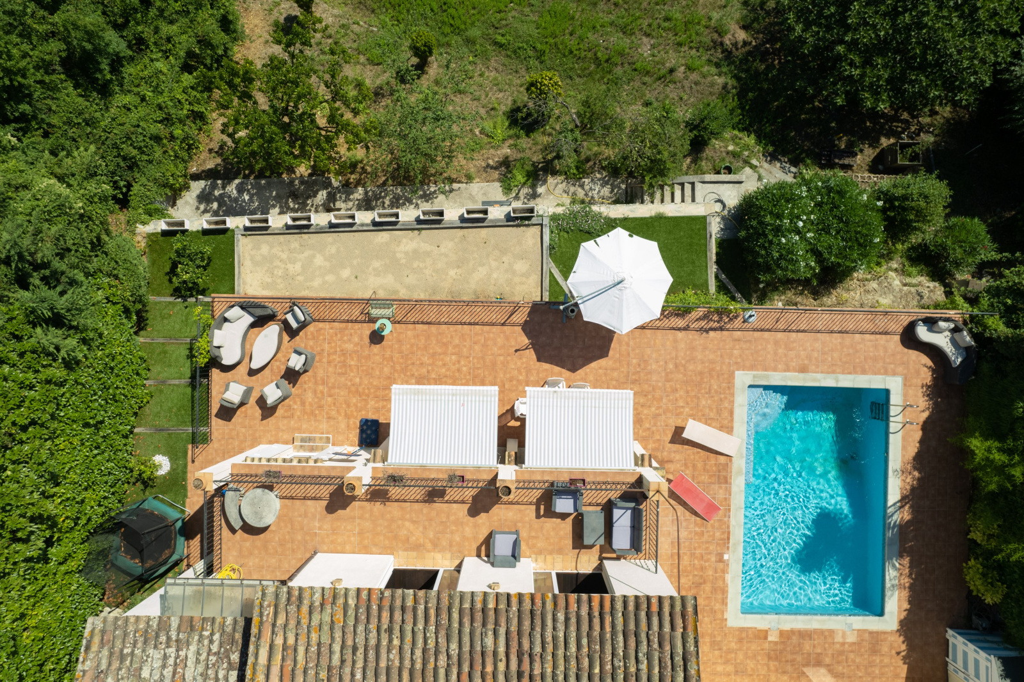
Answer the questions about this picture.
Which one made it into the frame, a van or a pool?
pool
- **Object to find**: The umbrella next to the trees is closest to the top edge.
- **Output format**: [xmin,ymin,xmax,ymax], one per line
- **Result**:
[550,227,673,334]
